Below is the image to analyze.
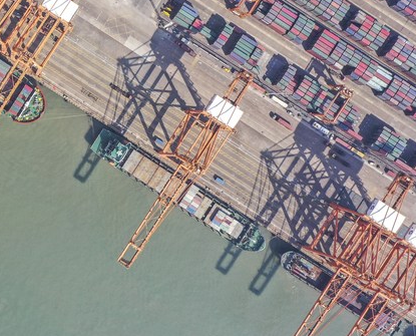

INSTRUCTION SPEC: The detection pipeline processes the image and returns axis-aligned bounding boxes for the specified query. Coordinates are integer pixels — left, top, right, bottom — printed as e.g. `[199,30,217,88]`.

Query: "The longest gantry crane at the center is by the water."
[117,69,256,269]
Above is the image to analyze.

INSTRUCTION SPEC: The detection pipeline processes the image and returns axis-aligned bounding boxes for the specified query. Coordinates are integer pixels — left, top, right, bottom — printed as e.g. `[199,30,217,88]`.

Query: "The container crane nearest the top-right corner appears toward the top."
[305,84,355,126]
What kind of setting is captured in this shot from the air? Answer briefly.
port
